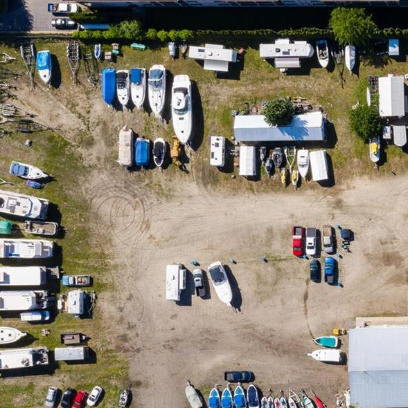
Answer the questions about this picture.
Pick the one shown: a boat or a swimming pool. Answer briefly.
boat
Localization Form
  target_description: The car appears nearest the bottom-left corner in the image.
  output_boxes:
[45,385,60,408]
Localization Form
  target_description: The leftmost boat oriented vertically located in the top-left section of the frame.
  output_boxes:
[37,50,53,84]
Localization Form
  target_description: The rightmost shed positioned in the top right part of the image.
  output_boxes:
[379,76,406,116]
